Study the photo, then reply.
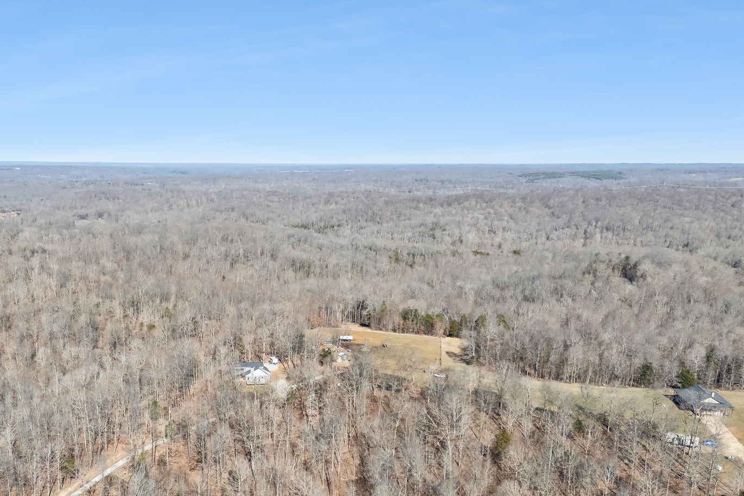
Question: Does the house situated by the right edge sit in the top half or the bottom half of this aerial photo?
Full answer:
The house situated by the right edge is in the bottom half of the image.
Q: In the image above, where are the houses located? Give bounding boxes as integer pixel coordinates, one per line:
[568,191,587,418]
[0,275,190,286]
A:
[673,386,736,418]
[227,359,272,386]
